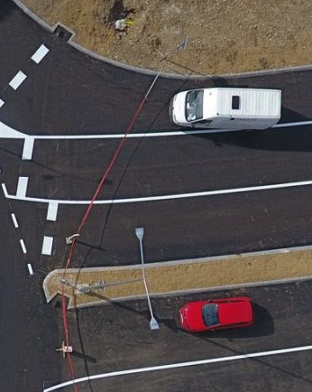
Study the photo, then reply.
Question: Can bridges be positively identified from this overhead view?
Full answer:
No, there appears to be no bridge in this shot.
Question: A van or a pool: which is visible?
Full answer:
I can see a van in this picture.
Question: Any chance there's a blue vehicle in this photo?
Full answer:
No, the photo shows no blue vehicle.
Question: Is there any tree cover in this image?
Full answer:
No, no tree cover is visible.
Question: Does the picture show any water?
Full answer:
No, no water is visible.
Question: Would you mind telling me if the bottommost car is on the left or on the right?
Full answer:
It is on the right.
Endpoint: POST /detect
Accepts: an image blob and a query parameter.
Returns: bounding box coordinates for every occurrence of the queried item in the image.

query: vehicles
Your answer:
[166,83,285,130]
[177,295,258,333]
